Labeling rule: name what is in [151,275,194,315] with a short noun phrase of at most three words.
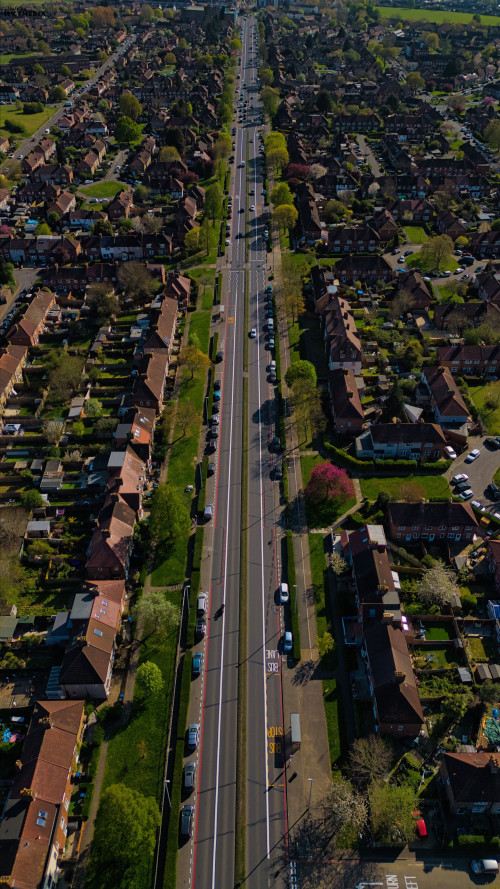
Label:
house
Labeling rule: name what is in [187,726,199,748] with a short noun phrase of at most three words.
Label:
vehicle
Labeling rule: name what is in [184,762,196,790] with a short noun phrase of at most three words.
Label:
vehicle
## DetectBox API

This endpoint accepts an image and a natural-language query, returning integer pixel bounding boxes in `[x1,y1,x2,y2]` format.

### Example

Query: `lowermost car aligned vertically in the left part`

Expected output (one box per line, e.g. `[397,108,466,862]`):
[181,808,194,835]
